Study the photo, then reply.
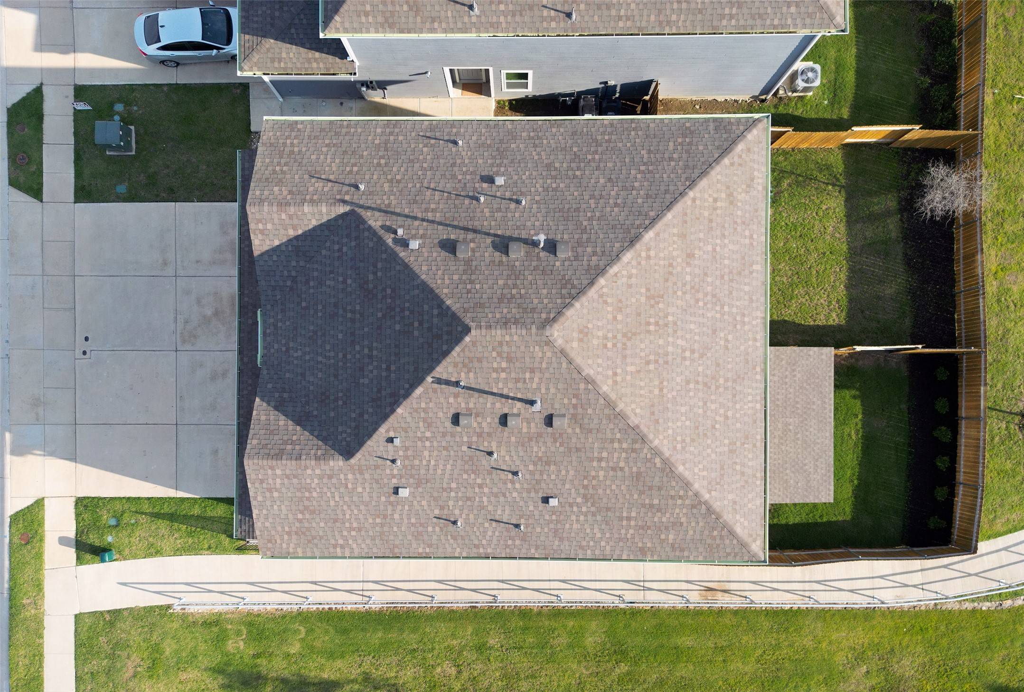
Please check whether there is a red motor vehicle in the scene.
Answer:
No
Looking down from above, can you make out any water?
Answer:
No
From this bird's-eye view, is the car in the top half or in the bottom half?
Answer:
top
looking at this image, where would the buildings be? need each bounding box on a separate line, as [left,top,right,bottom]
[234,114,834,565]
[237,0,849,101]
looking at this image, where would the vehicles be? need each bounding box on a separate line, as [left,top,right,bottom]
[132,2,237,66]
